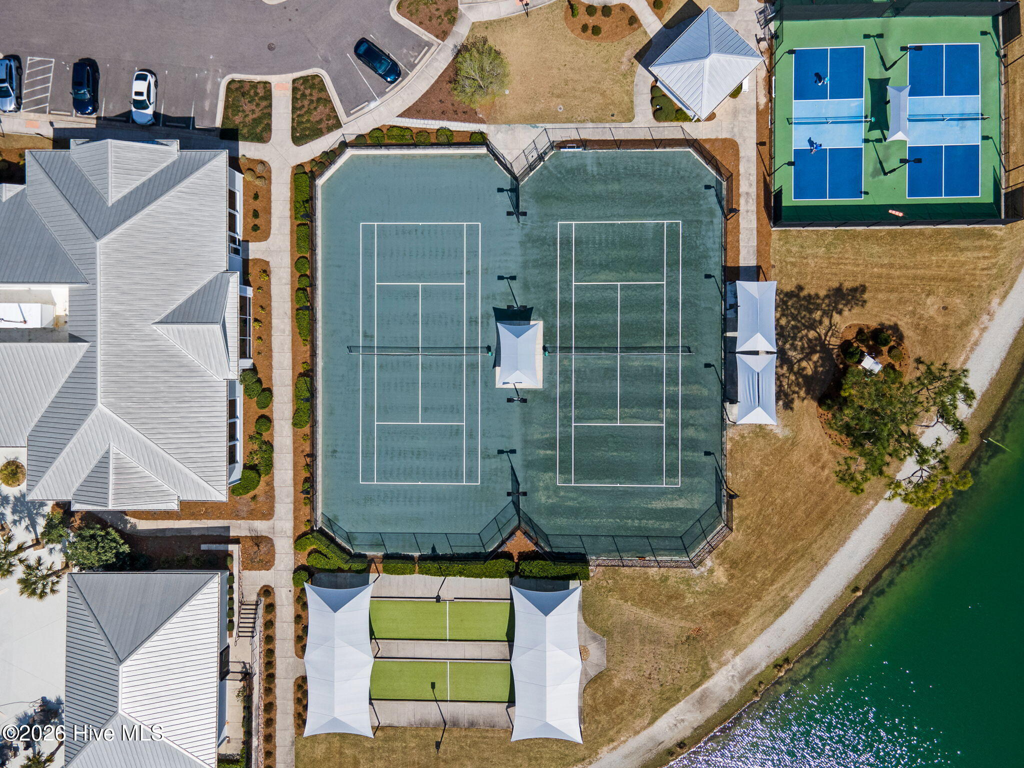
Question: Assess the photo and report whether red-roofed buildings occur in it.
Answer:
No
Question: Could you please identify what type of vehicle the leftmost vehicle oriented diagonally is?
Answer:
car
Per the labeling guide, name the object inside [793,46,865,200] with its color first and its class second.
blue sports court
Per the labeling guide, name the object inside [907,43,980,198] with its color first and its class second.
blue sports court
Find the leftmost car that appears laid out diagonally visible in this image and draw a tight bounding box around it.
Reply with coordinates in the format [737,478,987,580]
[354,37,402,85]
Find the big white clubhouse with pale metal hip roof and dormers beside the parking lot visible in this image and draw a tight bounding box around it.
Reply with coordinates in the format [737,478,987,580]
[0,138,255,511]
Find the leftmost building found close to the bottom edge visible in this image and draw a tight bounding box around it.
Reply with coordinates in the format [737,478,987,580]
[67,571,231,768]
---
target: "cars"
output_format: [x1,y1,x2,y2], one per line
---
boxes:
[68,62,98,115]
[127,71,156,125]
[0,58,19,113]
[354,37,402,85]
